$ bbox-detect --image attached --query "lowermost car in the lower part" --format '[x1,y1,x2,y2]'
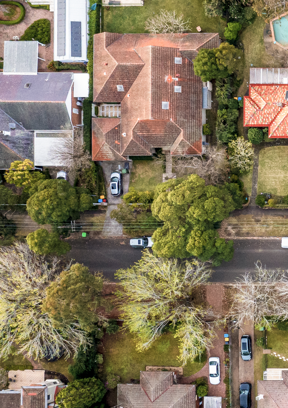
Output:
[238,382,253,408]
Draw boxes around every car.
[109,171,125,197]
[56,168,70,191]
[238,382,253,408]
[239,335,253,360]
[128,236,156,249]
[207,357,222,384]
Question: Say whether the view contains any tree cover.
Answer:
Yes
